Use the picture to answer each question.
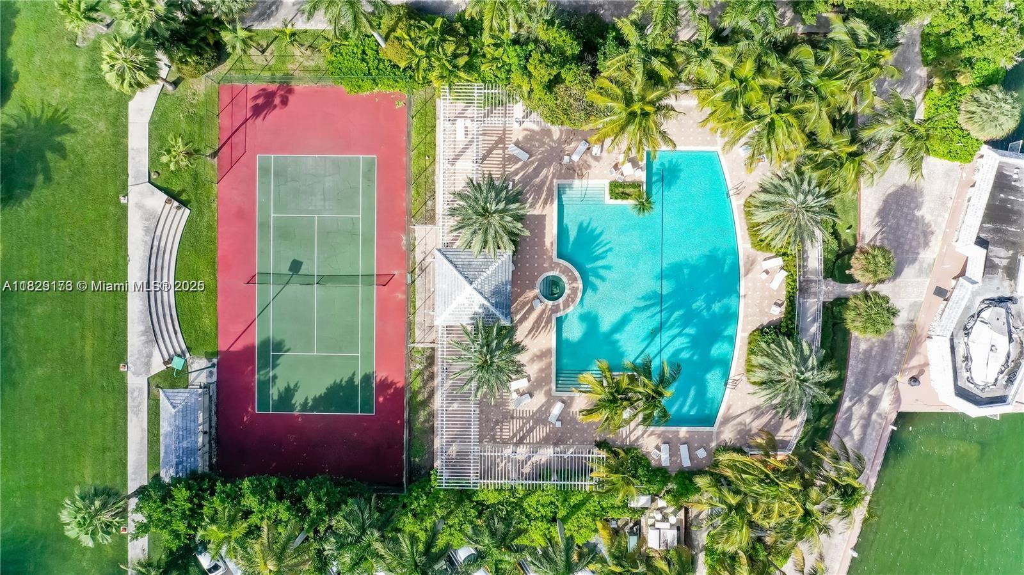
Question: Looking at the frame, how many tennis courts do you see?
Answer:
one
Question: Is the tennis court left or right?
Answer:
left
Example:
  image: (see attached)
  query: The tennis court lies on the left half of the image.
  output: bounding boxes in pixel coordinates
[217,84,408,484]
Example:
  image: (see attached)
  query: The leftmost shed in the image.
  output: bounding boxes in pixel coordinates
[159,376,213,482]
